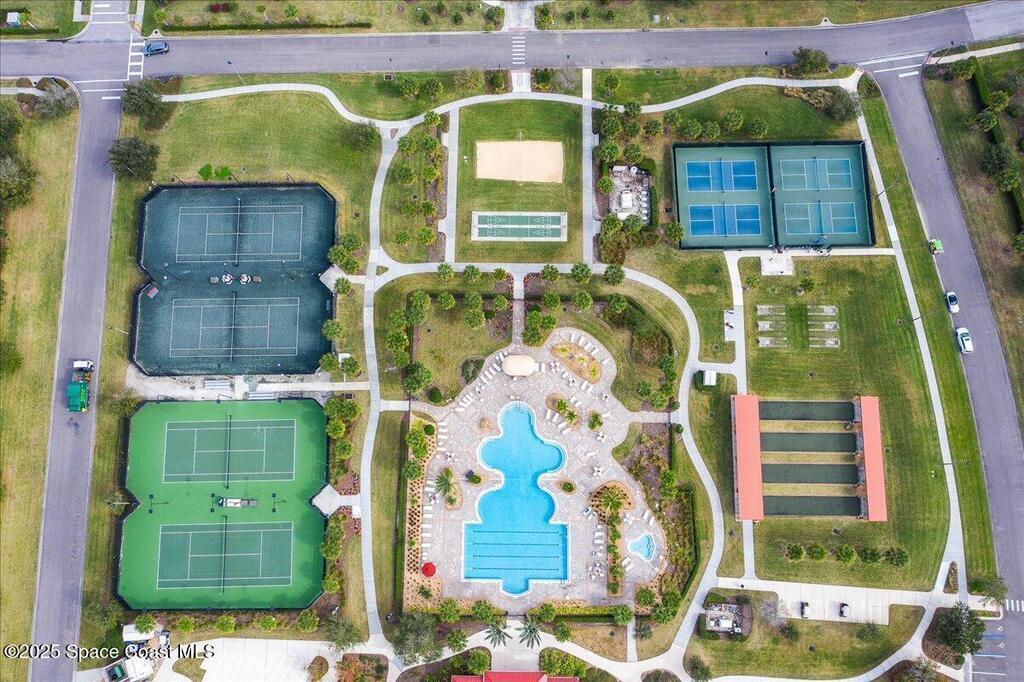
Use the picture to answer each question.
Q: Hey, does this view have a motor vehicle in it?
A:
Yes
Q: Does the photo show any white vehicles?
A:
Yes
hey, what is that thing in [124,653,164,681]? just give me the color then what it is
white truck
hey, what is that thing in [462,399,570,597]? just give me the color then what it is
blue swimming pool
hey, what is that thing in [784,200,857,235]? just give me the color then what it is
blue sports court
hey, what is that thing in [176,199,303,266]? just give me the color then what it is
blue tennis court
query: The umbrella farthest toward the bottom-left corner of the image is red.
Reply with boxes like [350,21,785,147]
[421,561,437,577]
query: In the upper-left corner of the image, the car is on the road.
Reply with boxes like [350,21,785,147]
[145,42,168,55]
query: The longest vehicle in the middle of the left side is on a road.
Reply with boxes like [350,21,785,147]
[69,361,91,413]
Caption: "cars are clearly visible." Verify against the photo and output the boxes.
[956,328,975,354]
[945,290,961,314]
[145,42,168,55]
